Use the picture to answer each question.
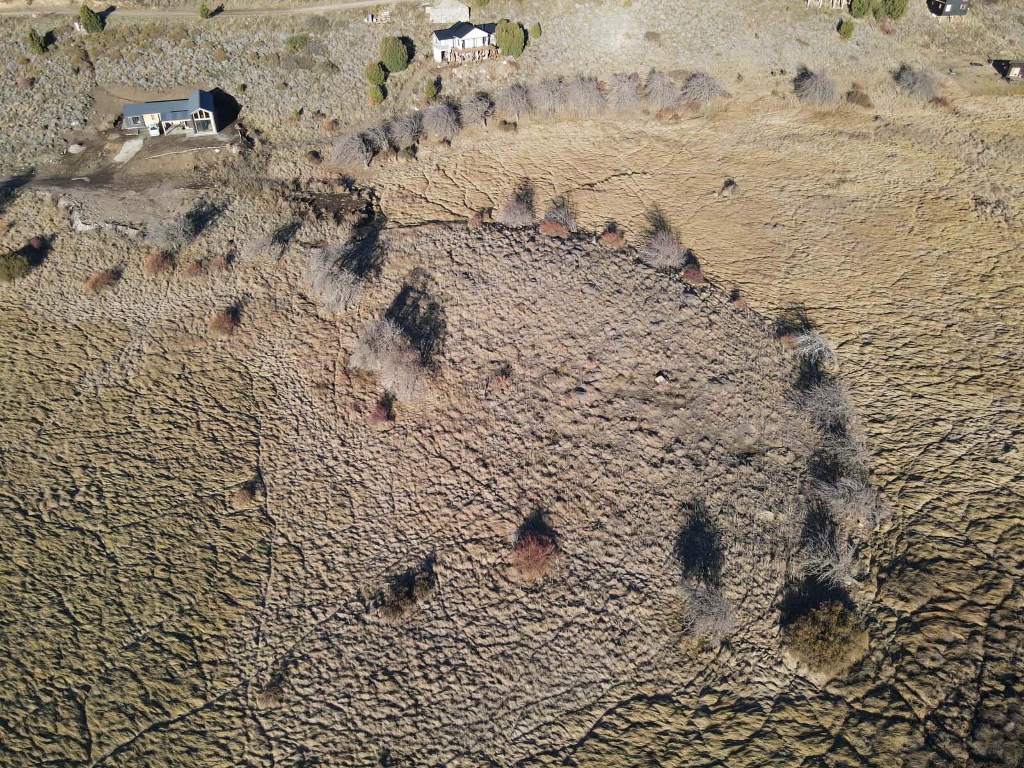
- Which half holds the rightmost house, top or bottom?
top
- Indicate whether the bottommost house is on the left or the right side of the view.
left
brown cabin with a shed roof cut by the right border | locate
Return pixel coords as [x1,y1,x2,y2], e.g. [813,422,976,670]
[993,53,1024,82]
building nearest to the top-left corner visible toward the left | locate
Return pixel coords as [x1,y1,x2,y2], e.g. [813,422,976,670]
[120,89,228,137]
